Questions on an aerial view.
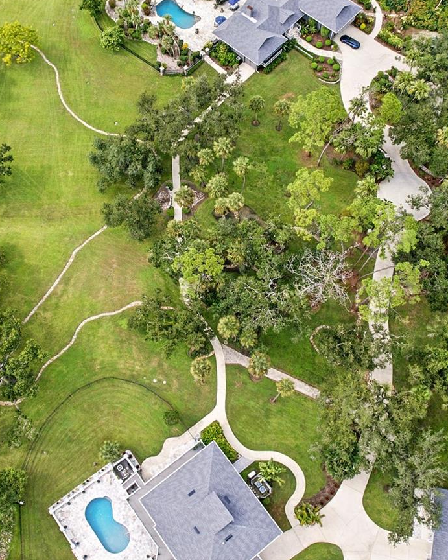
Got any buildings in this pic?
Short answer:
Yes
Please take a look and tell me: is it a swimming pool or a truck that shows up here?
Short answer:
swimming pool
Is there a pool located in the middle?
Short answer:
No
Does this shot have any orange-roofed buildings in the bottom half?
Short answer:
No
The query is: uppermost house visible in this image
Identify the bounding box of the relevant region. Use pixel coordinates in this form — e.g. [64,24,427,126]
[212,0,362,81]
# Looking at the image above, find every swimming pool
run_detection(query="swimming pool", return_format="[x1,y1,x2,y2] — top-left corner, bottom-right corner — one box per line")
[154,0,202,30]
[83,495,132,556]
